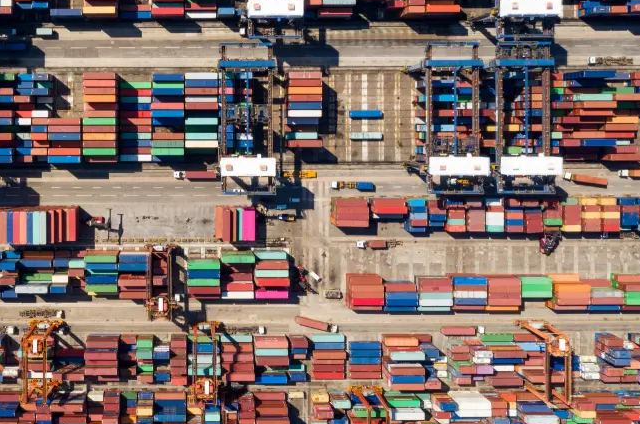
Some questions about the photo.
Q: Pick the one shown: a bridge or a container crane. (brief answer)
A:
container crane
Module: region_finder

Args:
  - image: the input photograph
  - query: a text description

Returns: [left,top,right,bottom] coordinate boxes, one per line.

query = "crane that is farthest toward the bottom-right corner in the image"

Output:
[511,319,570,407]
